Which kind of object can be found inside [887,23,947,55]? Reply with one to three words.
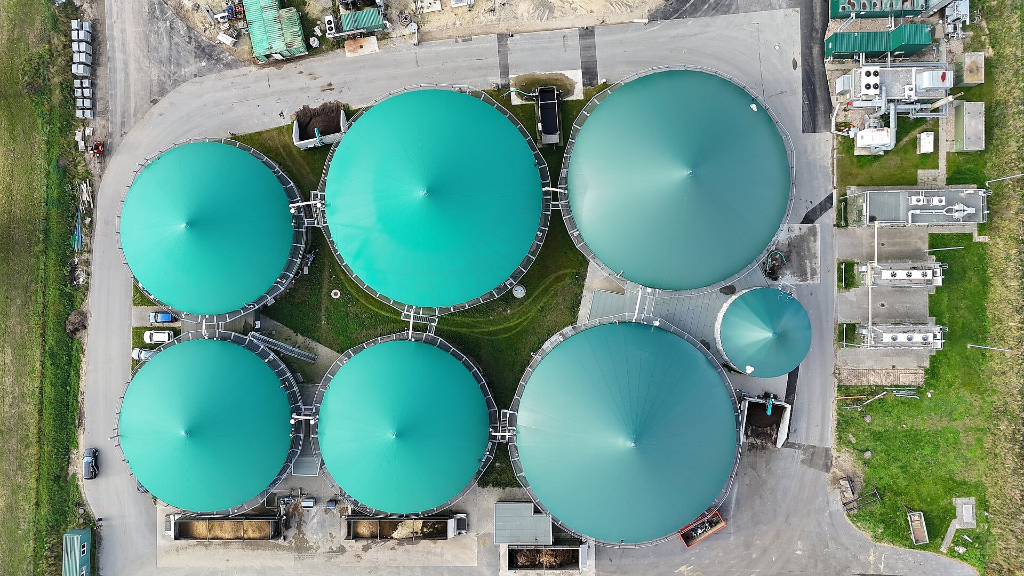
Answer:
building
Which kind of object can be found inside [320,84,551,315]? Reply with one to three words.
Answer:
storage tank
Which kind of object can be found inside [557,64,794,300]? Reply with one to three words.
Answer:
storage tank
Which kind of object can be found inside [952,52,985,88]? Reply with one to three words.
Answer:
building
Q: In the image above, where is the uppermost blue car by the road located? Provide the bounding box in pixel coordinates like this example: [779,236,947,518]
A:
[151,310,177,324]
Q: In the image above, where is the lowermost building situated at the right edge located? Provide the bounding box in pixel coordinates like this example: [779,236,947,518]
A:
[952,102,985,153]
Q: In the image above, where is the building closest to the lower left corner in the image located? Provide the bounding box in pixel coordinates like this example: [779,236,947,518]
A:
[62,529,92,576]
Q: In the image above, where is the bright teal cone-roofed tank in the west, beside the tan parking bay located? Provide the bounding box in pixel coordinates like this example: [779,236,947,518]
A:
[117,135,311,323]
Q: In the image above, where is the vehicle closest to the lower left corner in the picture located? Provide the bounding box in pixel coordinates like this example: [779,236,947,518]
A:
[82,447,101,479]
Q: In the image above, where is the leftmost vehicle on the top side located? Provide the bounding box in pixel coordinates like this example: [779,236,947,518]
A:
[91,143,106,155]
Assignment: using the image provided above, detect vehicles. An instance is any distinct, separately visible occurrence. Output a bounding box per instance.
[144,330,175,344]
[91,143,106,155]
[151,310,177,324]
[82,447,101,479]
[130,347,155,361]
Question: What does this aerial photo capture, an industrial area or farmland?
industrial area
